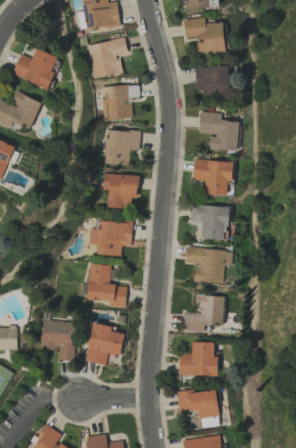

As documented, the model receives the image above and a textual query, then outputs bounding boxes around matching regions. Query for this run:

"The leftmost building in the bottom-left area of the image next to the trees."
[0,326,18,350]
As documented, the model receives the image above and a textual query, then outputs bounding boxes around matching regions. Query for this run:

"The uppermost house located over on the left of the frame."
[76,0,122,28]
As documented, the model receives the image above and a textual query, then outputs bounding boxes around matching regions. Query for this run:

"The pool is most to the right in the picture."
[90,311,118,324]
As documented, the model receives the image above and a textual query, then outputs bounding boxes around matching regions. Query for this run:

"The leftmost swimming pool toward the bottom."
[0,290,30,327]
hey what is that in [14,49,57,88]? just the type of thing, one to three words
house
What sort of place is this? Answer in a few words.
residential area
